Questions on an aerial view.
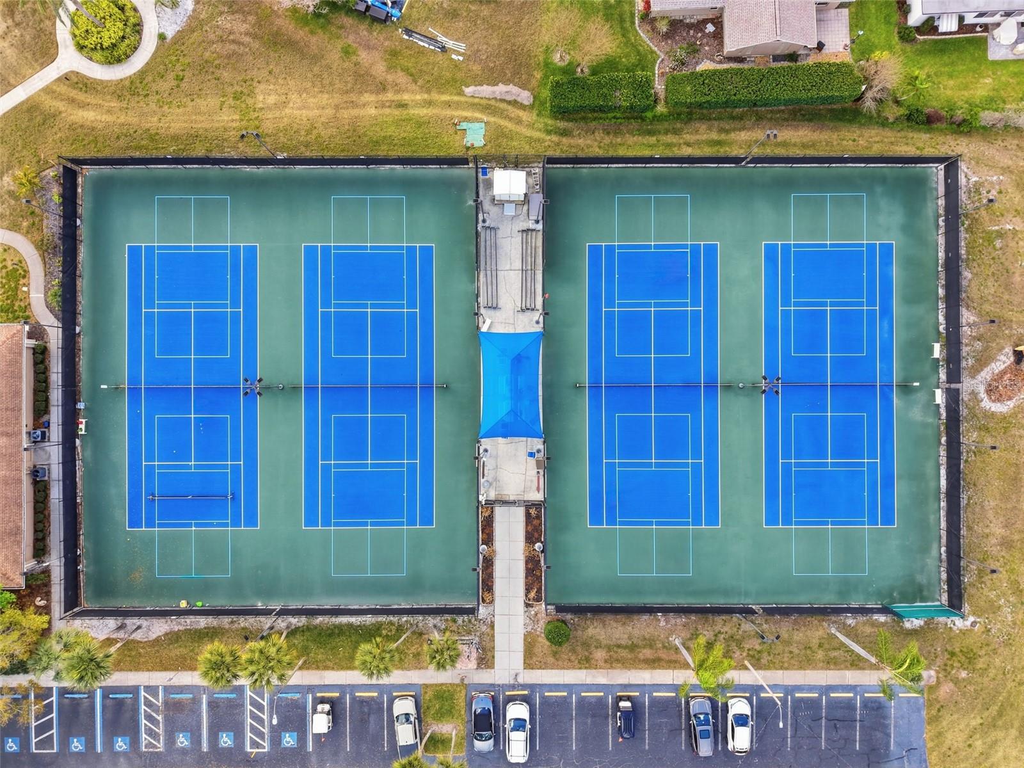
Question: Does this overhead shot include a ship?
No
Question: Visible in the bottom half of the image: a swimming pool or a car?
car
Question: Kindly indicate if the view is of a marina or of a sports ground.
sports ground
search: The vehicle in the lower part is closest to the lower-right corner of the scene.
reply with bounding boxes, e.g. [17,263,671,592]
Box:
[727,693,756,755]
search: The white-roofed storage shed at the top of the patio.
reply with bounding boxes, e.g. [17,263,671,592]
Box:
[494,167,526,199]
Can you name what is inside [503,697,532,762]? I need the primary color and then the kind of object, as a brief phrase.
white car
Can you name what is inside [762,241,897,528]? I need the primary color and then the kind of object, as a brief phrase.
blue tennis court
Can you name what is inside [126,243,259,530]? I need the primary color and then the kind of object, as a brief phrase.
blue tennis court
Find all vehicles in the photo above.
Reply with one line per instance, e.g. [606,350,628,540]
[727,693,756,755]
[469,691,496,749]
[503,697,532,762]
[314,696,334,742]
[390,694,421,768]
[687,692,717,755]
[616,693,634,739]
